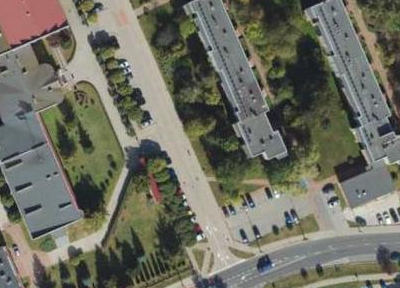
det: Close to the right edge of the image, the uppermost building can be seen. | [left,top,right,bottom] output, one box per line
[303,0,400,167]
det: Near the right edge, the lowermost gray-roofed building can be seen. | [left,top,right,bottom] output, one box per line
[339,165,395,209]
